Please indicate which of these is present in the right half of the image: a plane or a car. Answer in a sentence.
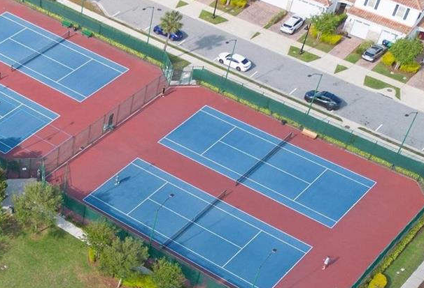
What appears in the right half of the image is a car.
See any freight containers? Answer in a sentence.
No, the picture doesn't show any freight container.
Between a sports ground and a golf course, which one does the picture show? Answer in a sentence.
This looks like a sports ground.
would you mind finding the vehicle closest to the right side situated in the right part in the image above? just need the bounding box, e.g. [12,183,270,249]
[362,46,386,64]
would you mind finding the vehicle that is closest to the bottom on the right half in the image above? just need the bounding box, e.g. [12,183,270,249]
[306,86,344,107]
